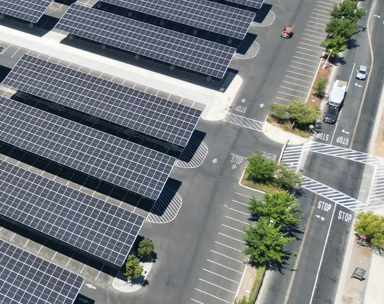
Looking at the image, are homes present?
No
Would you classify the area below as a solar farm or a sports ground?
solar farm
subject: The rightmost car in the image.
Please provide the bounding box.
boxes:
[355,67,368,81]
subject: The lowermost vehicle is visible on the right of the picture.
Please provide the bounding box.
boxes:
[323,104,339,123]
